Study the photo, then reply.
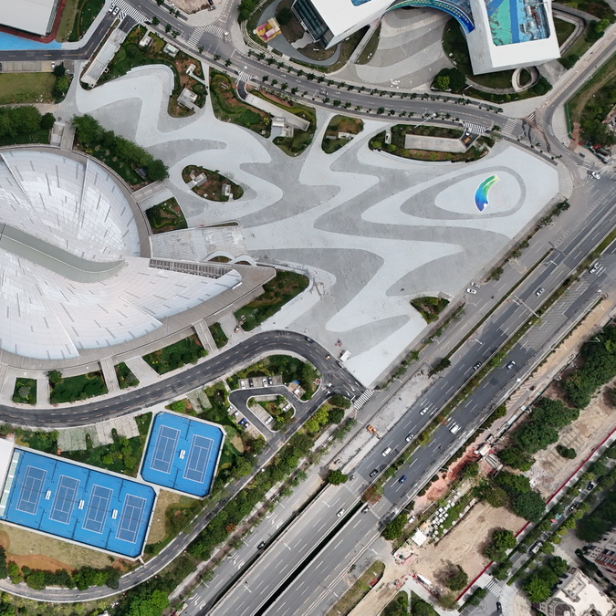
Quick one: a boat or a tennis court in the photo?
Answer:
tennis court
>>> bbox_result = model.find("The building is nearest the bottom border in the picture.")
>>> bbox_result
[516,557,616,616]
